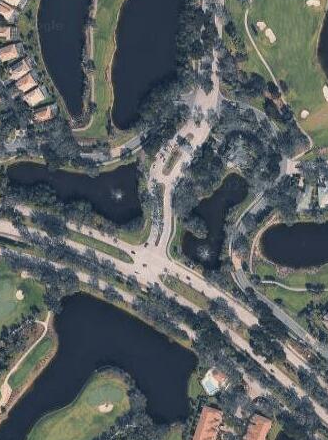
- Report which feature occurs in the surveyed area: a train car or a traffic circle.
traffic circle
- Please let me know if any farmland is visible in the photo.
No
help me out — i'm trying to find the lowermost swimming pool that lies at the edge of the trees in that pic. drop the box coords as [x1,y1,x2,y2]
[202,368,226,395]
